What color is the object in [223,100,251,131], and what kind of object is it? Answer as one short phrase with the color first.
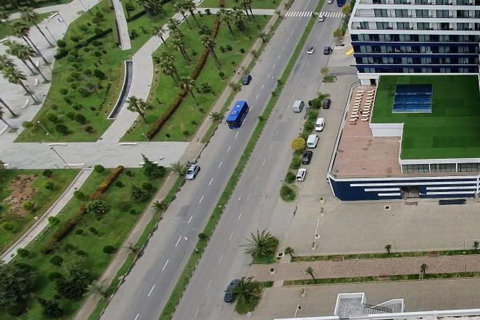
blue bus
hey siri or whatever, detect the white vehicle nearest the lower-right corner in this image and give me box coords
[295,168,307,182]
